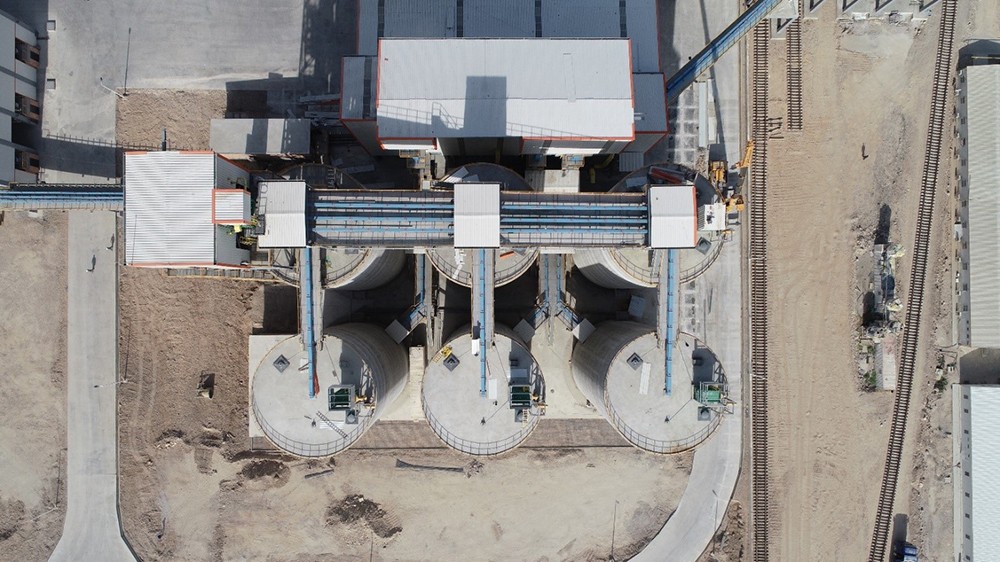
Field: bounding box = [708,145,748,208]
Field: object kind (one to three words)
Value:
truck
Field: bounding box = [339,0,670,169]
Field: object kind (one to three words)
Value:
building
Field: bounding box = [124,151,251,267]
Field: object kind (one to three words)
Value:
building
